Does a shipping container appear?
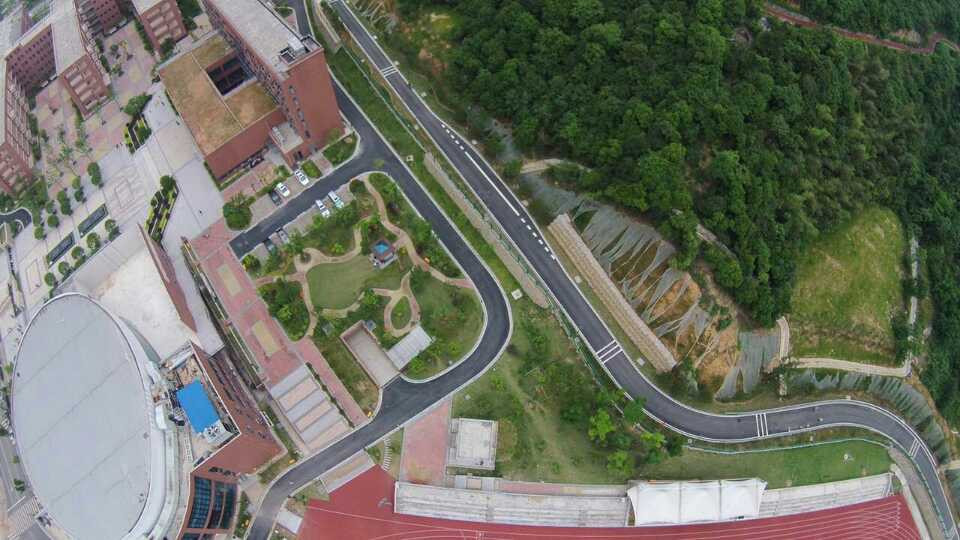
No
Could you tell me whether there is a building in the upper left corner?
Yes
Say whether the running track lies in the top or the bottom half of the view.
bottom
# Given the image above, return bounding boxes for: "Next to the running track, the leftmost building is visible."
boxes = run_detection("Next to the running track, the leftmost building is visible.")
[9,291,180,540]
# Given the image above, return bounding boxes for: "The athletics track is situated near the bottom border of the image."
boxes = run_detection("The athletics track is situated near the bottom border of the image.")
[301,465,920,540]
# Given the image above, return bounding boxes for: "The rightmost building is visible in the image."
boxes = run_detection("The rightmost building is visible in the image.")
[446,416,500,490]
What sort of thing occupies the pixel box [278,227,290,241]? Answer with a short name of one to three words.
vehicle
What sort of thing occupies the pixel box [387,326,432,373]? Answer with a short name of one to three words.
shed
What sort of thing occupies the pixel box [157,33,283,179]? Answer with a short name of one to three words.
building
